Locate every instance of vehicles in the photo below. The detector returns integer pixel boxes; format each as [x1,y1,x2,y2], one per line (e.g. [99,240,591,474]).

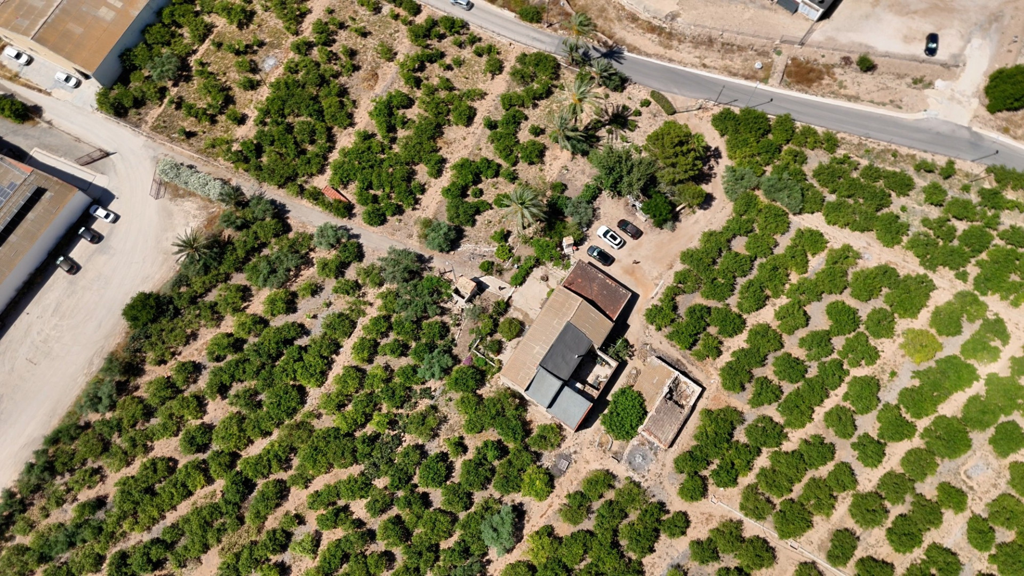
[614,218,646,243]
[0,41,33,67]
[75,225,104,248]
[922,31,940,59]
[86,204,120,227]
[584,243,617,269]
[48,66,82,91]
[593,224,626,253]
[448,0,475,14]
[52,253,82,278]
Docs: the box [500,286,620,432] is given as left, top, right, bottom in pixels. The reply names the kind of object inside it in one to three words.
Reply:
house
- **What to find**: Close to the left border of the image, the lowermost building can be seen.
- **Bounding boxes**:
[0,152,93,313]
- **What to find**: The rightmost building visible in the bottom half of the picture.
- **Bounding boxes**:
[631,355,703,450]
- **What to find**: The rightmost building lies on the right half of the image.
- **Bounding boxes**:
[791,0,832,32]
